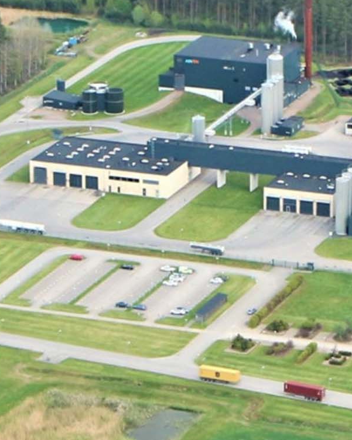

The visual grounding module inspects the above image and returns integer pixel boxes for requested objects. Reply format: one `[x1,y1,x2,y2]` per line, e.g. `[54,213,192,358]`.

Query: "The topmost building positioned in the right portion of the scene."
[156,34,311,108]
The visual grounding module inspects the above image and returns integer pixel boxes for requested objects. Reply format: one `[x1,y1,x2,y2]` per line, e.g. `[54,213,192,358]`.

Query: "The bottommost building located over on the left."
[30,137,207,198]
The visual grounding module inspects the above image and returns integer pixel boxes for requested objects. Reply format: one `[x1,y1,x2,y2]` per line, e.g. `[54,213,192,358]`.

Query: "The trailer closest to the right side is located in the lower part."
[284,380,329,400]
